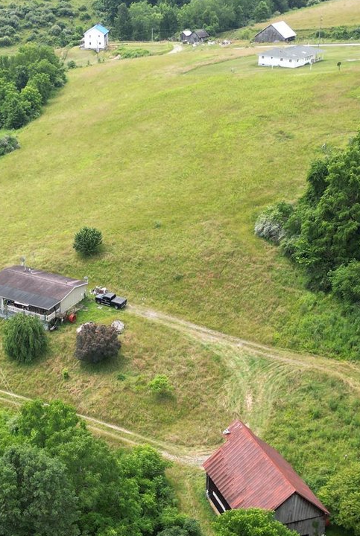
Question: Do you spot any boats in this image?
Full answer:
No, no boat can be seen from above.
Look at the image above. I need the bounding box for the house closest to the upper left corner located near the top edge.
[78,18,111,50]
